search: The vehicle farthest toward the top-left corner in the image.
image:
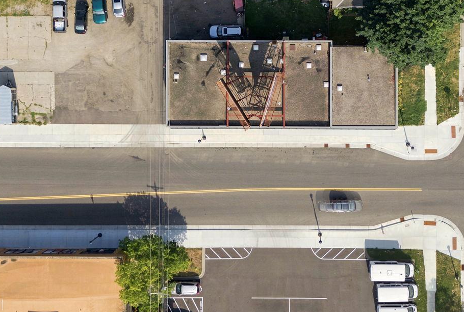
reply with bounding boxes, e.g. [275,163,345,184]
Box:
[51,0,67,32]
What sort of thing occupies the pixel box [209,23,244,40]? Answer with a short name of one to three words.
car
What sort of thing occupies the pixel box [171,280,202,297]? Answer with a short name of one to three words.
car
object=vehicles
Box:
[90,0,107,23]
[112,0,126,17]
[171,280,202,297]
[51,0,67,32]
[370,263,414,281]
[321,197,358,213]
[209,23,244,40]
[377,284,418,302]
[376,304,417,312]
[72,0,89,35]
